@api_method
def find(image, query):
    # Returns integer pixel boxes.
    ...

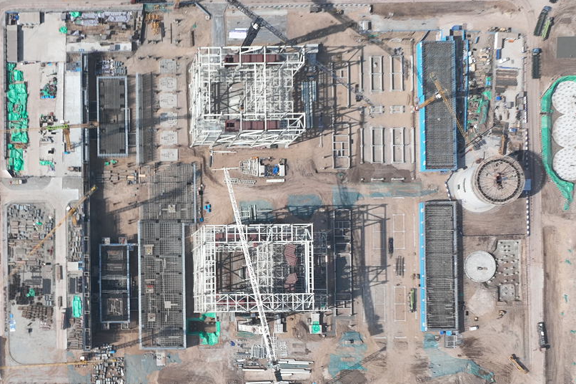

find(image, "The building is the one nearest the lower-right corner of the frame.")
[420,201,460,331]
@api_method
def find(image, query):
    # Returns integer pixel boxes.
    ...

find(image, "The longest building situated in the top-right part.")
[416,29,457,173]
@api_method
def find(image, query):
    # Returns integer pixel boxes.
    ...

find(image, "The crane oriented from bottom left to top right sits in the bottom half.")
[0,184,99,286]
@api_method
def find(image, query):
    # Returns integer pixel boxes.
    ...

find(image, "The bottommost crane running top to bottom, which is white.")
[206,168,287,384]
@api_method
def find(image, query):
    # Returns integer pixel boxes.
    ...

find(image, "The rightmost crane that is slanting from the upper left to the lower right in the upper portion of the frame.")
[414,71,484,162]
